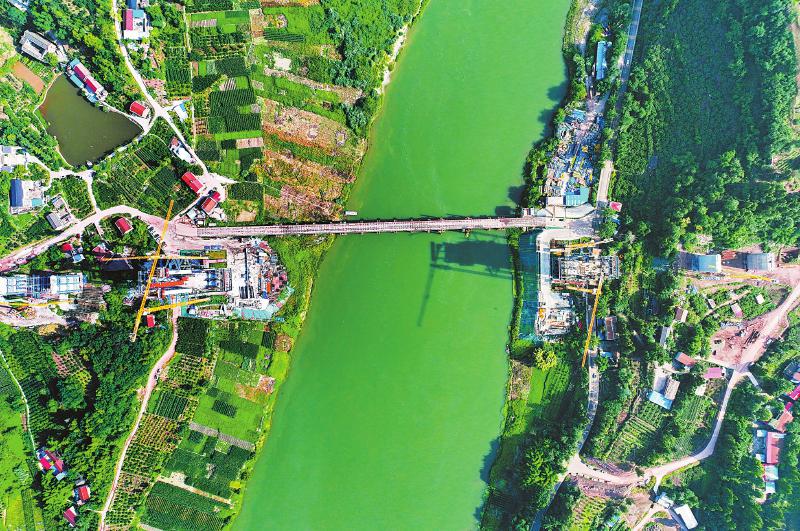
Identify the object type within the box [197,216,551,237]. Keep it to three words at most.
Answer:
bridge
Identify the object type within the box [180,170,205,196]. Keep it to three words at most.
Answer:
house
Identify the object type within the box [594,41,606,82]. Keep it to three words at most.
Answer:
shed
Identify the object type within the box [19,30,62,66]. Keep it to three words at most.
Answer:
house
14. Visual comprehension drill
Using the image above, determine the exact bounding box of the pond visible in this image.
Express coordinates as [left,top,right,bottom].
[38,73,143,165]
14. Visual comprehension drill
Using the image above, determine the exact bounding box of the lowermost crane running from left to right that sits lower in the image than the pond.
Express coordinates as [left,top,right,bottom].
[0,294,79,330]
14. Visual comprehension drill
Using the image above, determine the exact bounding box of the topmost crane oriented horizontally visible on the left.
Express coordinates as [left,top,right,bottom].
[100,250,213,263]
